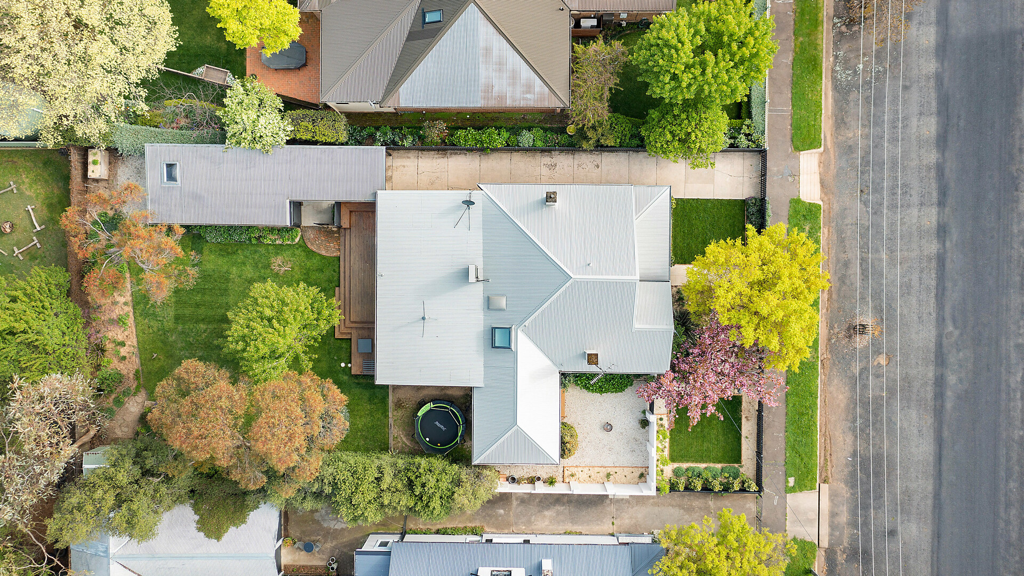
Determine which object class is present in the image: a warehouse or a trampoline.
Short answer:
trampoline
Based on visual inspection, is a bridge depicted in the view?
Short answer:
No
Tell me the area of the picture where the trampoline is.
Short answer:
bottom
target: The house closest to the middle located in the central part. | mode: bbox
[374,182,674,466]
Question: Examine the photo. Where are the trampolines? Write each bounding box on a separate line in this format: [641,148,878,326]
[416,402,465,452]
